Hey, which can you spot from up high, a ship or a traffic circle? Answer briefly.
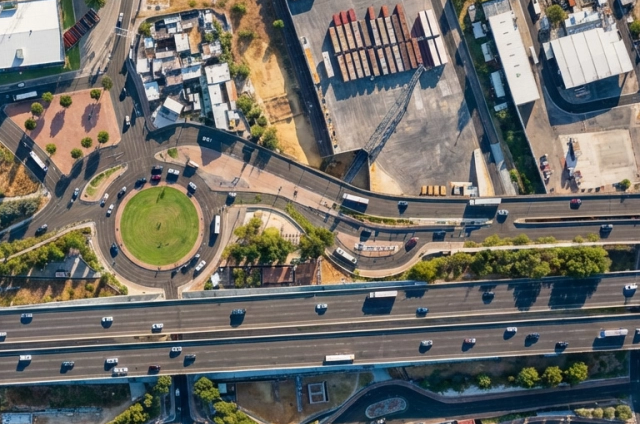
traffic circle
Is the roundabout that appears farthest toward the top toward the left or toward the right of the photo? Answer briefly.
left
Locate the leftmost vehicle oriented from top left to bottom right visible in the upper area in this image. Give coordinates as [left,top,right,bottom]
[29,149,49,172]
